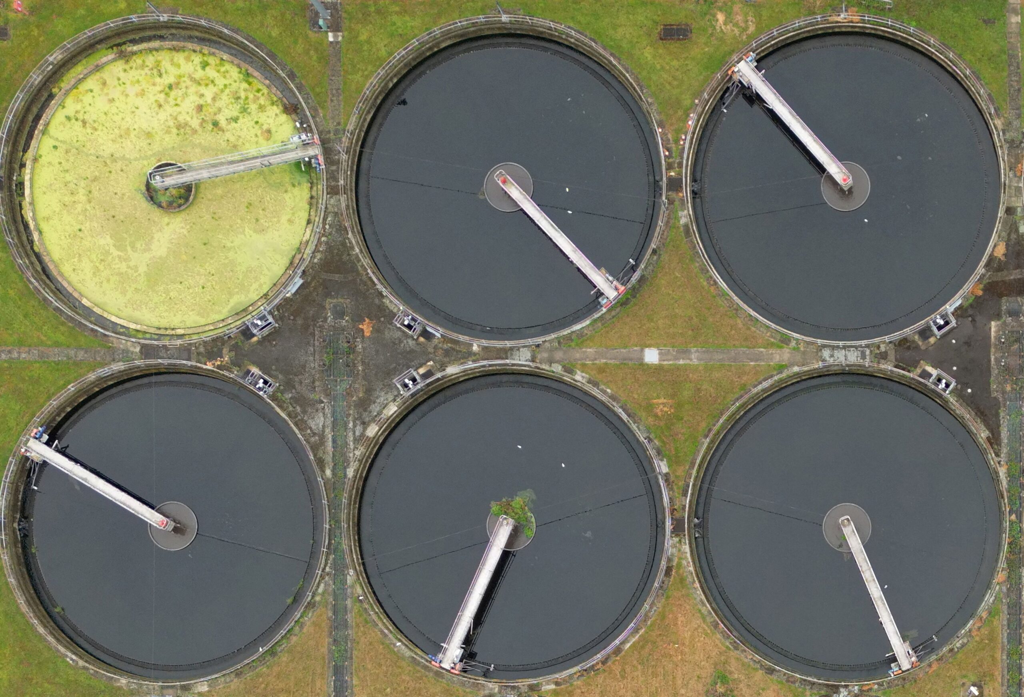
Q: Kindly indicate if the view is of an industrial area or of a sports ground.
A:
industrial area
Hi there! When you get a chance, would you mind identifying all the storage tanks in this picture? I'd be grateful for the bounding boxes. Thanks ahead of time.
[0,358,333,691]
[340,12,672,350]
[0,13,332,351]
[683,359,1011,692]
[682,12,1010,349]
[342,357,673,690]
